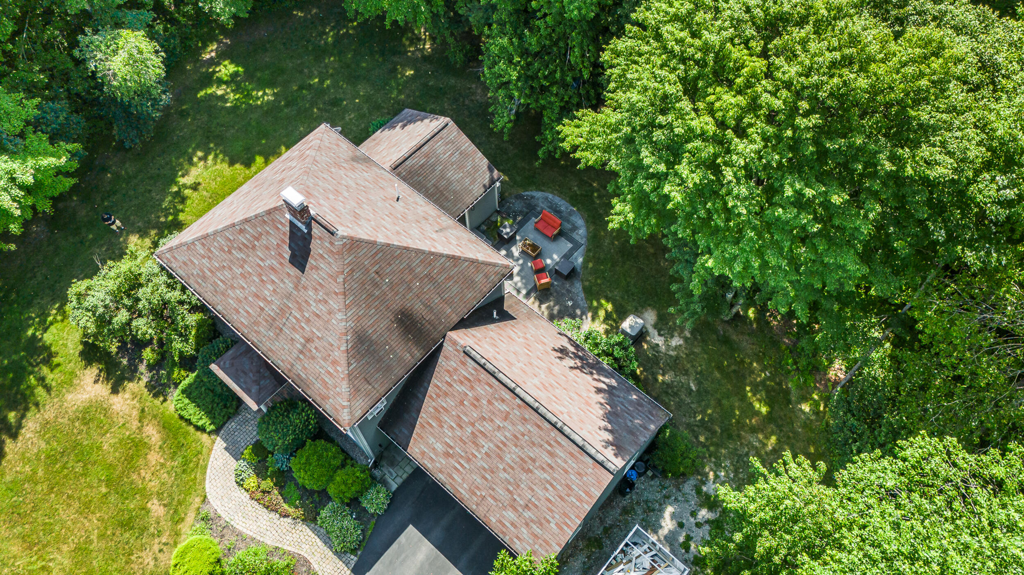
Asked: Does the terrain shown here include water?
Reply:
No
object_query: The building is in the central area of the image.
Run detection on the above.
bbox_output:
[155,109,673,575]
